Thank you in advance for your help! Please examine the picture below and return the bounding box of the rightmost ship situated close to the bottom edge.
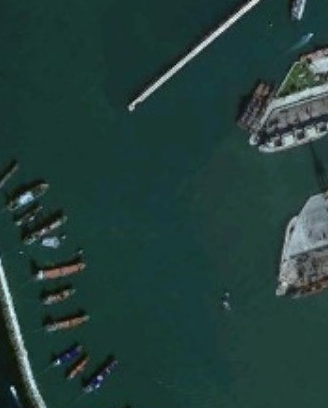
[81,362,118,393]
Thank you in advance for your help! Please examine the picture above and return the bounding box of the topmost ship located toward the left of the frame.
[0,163,18,187]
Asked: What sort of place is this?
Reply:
port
